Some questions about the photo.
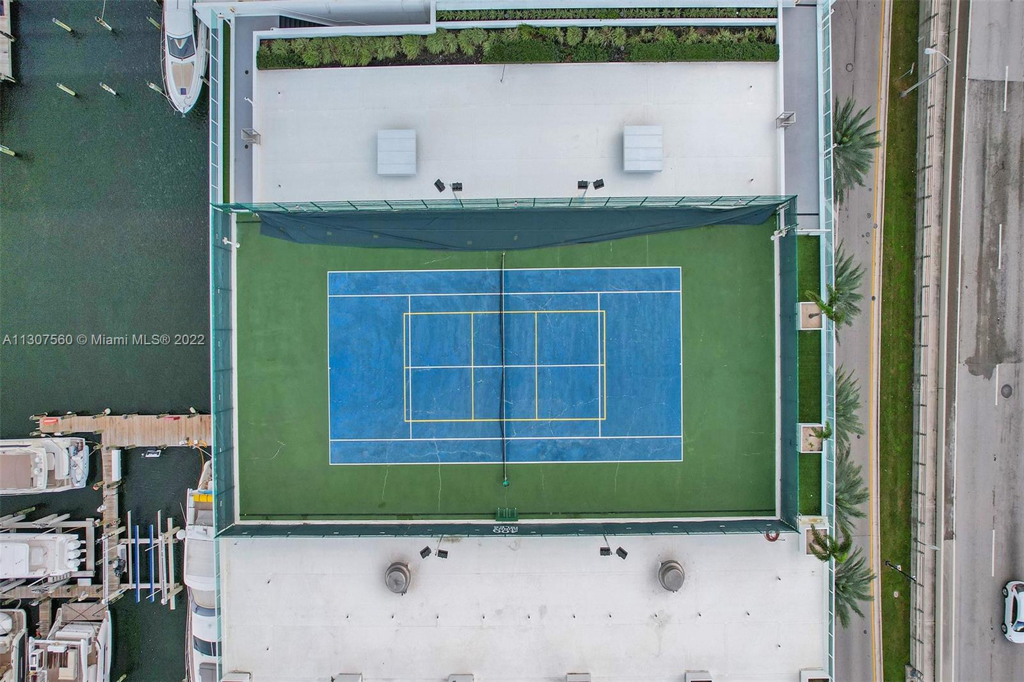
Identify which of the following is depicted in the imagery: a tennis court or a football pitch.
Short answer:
tennis court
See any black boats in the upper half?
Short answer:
No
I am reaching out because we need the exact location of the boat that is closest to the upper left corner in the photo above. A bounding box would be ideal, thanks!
[160,0,209,118]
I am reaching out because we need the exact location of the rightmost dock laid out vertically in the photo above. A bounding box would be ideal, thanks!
[102,446,121,596]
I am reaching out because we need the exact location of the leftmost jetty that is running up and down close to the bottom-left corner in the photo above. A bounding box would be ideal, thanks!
[39,598,53,638]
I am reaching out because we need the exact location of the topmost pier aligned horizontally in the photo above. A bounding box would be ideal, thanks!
[40,414,212,446]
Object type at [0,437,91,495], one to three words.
boat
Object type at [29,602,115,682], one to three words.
boat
